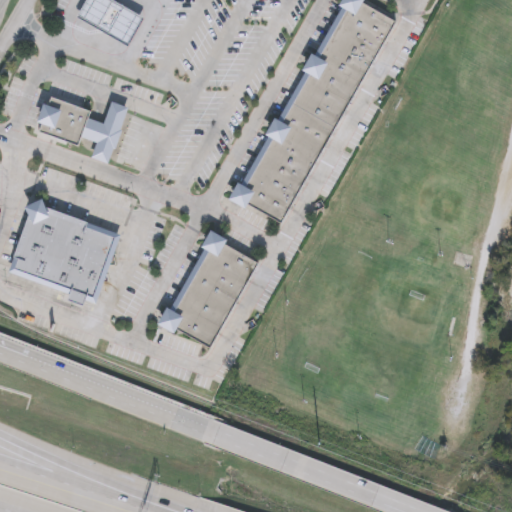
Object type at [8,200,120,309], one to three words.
building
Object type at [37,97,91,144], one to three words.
building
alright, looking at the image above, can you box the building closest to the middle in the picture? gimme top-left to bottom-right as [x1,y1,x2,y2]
[158,231,258,346]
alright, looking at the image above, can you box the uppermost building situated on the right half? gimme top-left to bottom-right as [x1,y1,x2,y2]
[229,0,396,221]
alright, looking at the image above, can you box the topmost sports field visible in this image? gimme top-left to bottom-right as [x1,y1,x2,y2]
[384,284,443,346]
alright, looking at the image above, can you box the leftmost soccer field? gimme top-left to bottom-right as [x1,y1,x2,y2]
[282,308,382,404]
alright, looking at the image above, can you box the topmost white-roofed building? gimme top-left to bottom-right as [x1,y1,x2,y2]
[78,0,144,45]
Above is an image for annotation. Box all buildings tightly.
[8,200,120,309]
[78,0,144,45]
[84,102,126,164]
[158,231,258,346]
[229,0,396,221]
[37,97,91,144]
